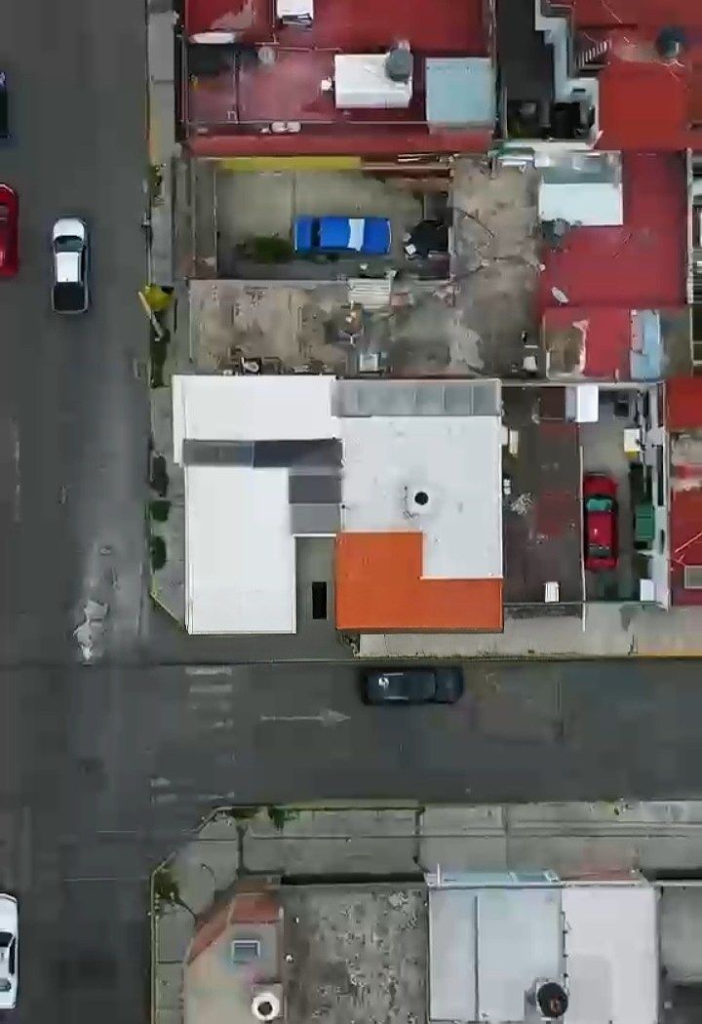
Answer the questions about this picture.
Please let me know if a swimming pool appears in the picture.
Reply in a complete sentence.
No, the picture doesn't show any swimming pool.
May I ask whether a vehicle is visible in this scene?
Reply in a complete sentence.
Yes, there's a vehicle down there.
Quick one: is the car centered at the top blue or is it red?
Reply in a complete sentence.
In this view, the car centered at the top is blue.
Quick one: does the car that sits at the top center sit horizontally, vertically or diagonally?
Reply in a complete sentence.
In this picture, the car that sits at the top center lies horizontally.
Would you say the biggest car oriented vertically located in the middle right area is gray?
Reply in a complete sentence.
No, from above the biggest car oriented vertically located in the middle right area looks red.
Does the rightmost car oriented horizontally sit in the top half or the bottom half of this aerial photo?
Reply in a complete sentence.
The bottom half of the photo is where the rightmost car oriented horizontally is.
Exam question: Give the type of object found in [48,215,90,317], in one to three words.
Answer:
truck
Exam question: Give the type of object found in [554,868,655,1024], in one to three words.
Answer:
house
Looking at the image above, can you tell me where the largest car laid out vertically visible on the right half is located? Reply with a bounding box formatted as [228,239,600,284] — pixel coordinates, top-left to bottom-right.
[582,473,621,573]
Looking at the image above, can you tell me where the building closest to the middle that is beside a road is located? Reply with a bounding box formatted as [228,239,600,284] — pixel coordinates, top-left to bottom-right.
[174,375,503,634]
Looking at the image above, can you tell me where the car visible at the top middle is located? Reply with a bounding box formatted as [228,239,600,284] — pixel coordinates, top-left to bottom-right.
[292,213,393,256]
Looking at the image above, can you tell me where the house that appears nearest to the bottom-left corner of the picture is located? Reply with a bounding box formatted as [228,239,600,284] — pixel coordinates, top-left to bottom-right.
[185,877,284,1024]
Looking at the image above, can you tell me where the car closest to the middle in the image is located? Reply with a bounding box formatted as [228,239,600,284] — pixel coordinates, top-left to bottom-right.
[359,664,465,708]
